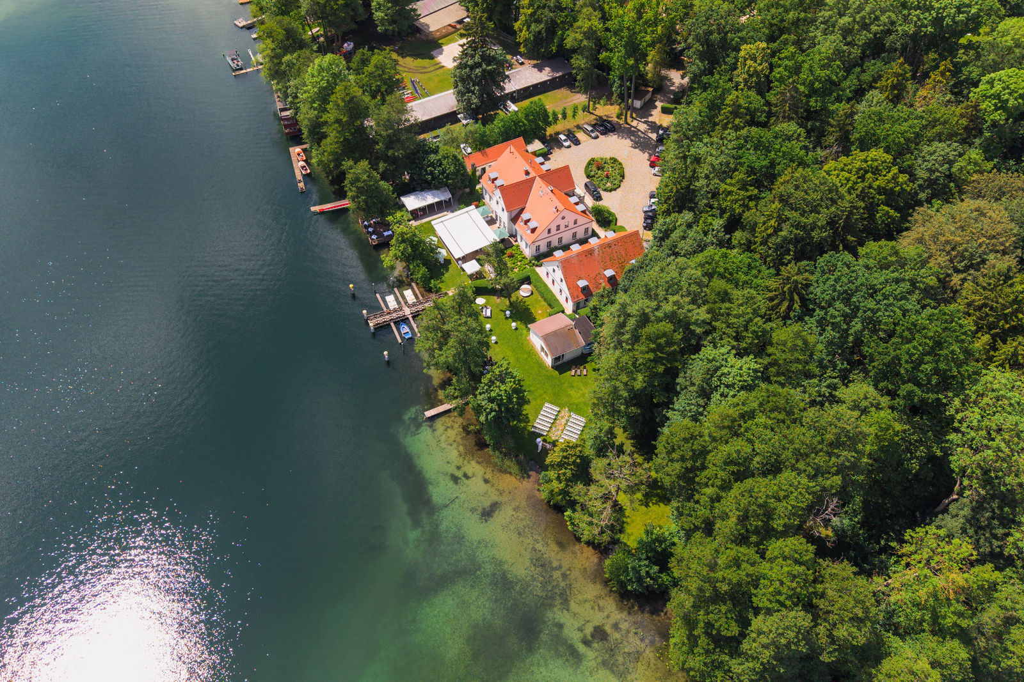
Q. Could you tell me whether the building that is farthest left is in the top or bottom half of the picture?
top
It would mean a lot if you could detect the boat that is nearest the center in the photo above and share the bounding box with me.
[400,323,412,340]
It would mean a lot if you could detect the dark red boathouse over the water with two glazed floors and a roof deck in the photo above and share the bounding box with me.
[275,101,305,137]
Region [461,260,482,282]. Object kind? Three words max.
gazebo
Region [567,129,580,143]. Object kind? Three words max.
vehicle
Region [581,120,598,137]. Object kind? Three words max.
car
